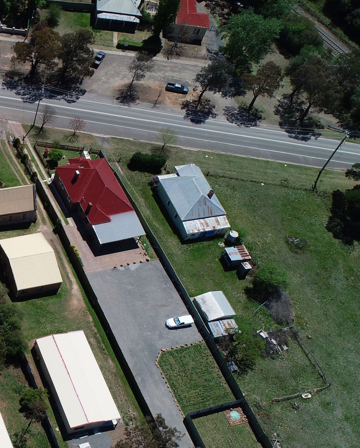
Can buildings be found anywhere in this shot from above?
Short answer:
Yes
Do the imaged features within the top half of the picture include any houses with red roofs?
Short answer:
Yes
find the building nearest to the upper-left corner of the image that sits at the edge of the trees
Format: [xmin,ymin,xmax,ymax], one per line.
[94,0,142,31]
